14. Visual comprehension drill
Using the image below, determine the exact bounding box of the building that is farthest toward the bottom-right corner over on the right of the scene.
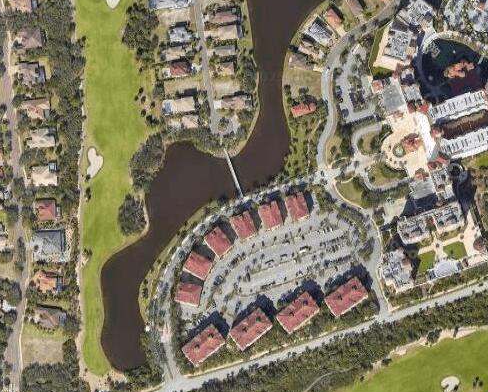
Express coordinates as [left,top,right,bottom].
[431,259,461,281]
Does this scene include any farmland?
No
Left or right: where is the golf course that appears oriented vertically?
left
